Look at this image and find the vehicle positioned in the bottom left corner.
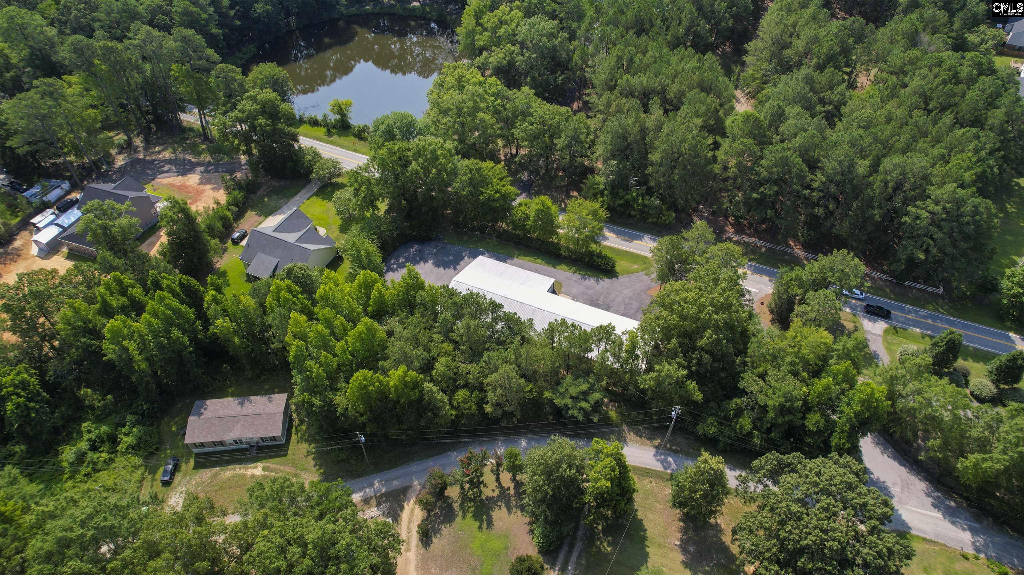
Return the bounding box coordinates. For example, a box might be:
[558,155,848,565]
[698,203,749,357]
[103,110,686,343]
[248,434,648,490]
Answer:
[161,459,178,485]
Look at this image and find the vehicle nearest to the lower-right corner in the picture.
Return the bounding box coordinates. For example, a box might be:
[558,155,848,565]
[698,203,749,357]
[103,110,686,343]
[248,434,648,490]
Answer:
[862,303,893,320]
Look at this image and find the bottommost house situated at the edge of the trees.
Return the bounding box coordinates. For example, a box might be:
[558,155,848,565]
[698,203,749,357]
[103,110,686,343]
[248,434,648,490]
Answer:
[181,395,295,454]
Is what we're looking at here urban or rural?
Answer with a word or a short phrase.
rural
